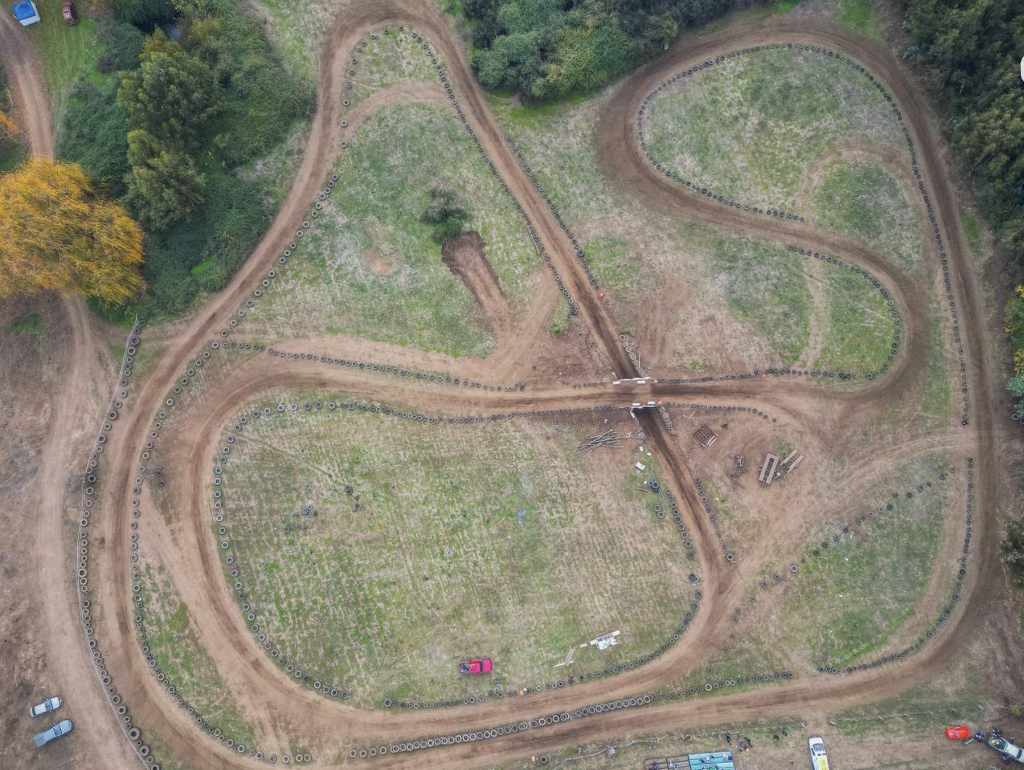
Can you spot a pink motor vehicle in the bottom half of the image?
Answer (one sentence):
Yes, the scene does show a pink motor vehicle in the bottom half of the image.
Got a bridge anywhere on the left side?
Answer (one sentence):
No, there's no bridge to be seen on the left side.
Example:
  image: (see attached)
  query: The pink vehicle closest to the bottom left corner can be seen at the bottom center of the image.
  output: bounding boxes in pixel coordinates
[458,656,494,675]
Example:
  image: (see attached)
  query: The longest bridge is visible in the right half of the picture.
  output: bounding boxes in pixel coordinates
[612,377,667,407]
